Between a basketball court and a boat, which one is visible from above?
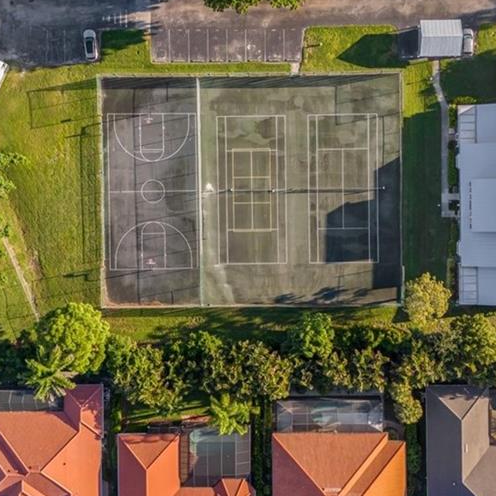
basketball court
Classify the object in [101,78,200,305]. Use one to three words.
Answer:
basketball court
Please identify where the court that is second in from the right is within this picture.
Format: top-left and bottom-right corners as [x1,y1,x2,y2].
[199,77,299,305]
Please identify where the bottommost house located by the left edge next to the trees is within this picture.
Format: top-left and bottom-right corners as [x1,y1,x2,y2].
[0,385,103,496]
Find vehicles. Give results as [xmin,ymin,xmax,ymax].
[83,29,99,62]
[462,26,476,58]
